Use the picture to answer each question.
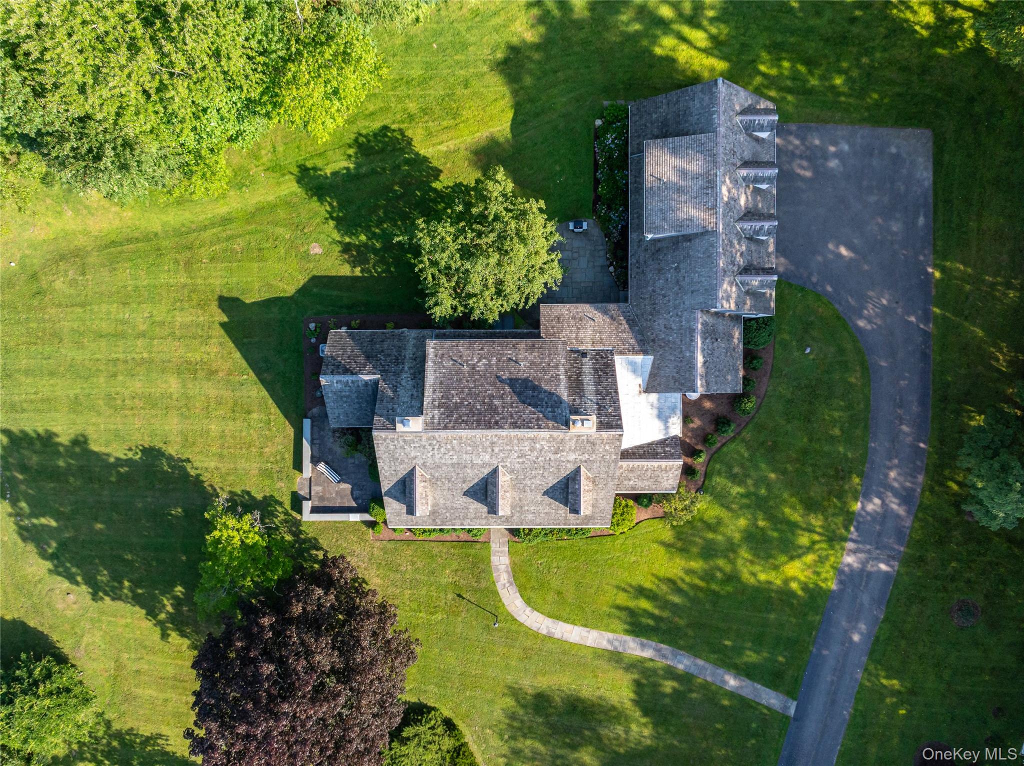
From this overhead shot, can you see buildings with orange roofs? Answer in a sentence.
No, the scene contains no building with an orange roof.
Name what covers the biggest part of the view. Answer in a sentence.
Most of the picture is covered by grass.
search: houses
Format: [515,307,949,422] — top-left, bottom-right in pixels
[320,78,778,530]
